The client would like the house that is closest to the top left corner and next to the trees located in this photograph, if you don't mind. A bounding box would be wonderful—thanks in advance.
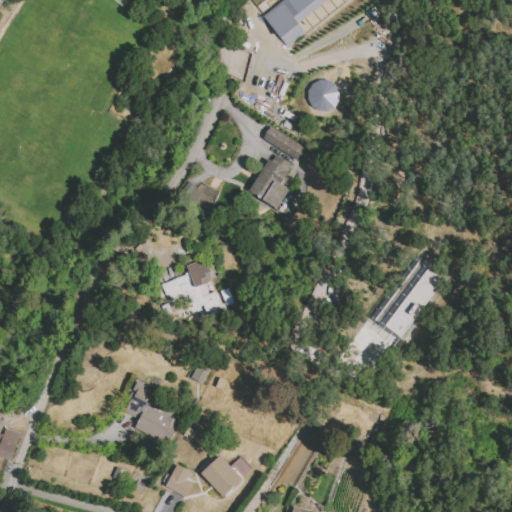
[183,180,220,206]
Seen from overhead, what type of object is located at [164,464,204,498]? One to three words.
house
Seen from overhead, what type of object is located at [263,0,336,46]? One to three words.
building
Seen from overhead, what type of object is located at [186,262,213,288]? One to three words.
house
